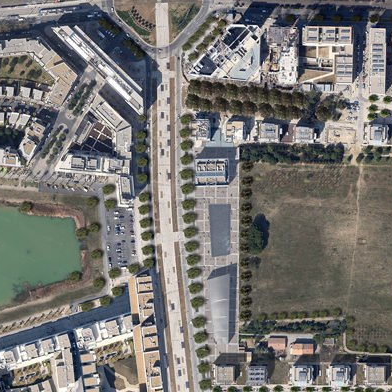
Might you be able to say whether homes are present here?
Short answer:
Yes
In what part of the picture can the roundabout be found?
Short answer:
top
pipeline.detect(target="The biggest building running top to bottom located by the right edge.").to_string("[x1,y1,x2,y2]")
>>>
[369,28,386,94]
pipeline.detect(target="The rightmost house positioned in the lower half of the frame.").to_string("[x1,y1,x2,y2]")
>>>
[365,365,386,383]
